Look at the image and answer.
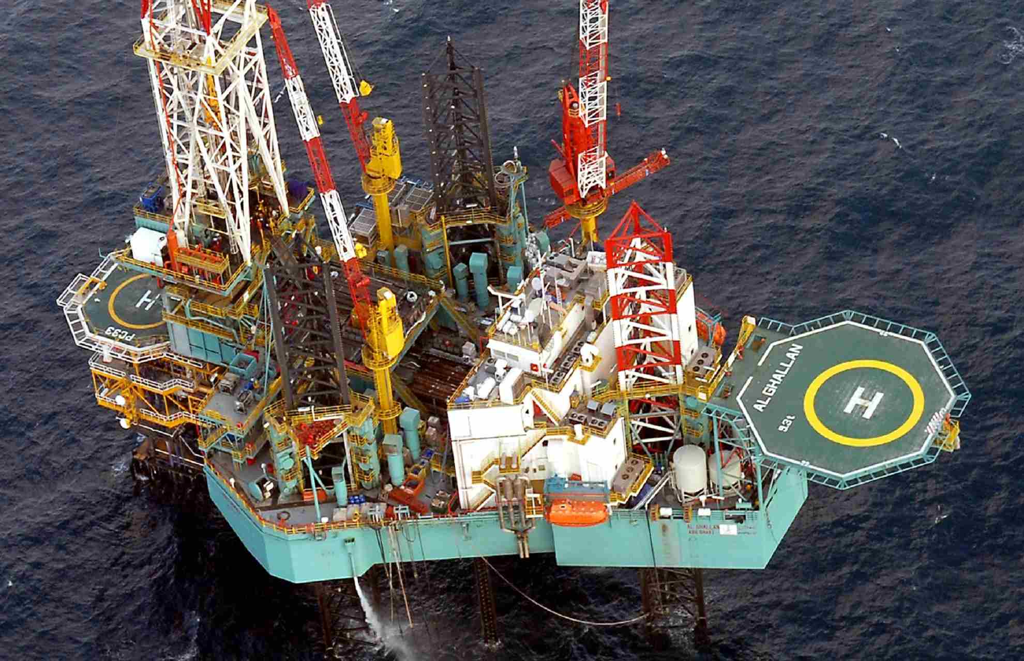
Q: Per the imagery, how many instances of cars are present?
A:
none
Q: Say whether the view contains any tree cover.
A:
No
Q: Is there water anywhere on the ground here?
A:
Yes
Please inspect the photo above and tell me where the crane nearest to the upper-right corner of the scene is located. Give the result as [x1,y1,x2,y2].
[542,0,620,249]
